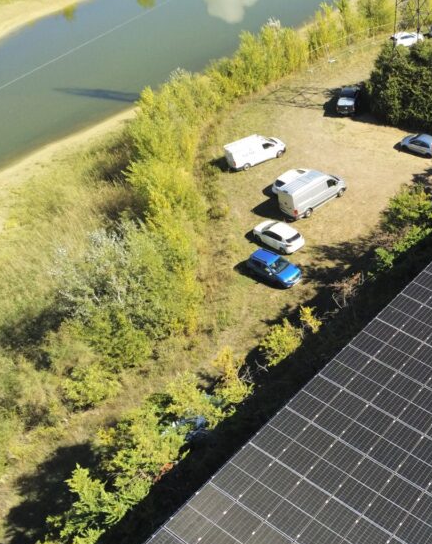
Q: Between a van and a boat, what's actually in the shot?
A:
van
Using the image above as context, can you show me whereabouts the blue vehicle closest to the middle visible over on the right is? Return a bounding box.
[244,246,305,290]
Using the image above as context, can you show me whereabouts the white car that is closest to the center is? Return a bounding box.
[249,222,310,257]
